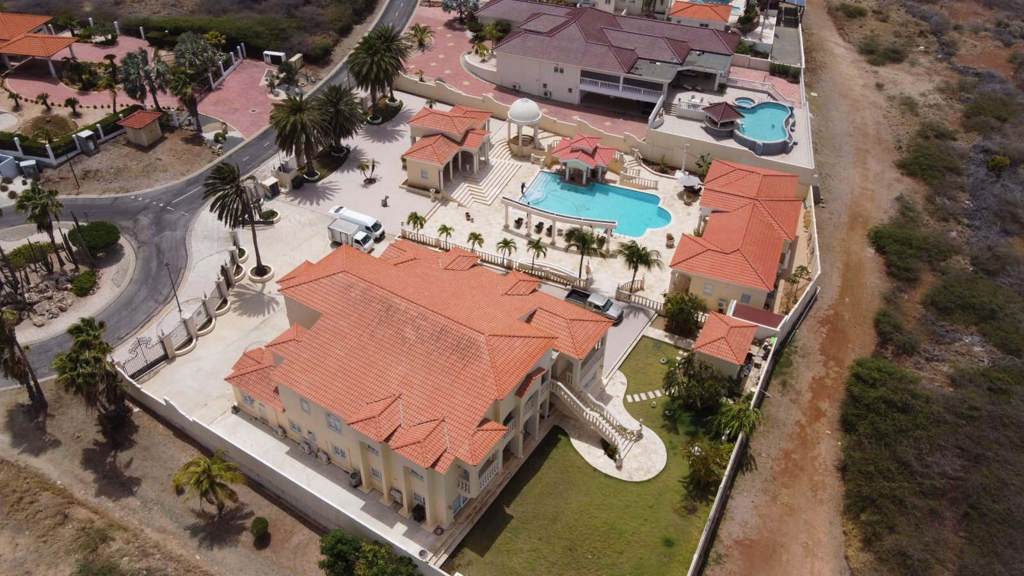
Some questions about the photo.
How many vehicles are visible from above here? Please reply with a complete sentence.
Altogether the scene contains 3 vehicles.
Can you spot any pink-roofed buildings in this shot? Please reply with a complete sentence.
Yes, looking at the shot, I can spot a pink-roofed building.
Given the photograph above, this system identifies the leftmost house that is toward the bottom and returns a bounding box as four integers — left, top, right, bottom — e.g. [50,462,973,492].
[225,244,615,535]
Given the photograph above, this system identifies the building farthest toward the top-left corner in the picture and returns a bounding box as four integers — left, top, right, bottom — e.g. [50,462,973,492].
[0,10,53,41]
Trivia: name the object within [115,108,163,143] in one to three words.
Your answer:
shed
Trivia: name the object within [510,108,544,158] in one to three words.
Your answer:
gazebo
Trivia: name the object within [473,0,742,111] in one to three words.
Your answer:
house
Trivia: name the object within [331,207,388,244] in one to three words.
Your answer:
van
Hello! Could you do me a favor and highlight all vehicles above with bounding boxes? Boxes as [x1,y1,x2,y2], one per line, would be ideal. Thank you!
[326,218,375,255]
[331,207,388,244]
[563,292,625,326]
